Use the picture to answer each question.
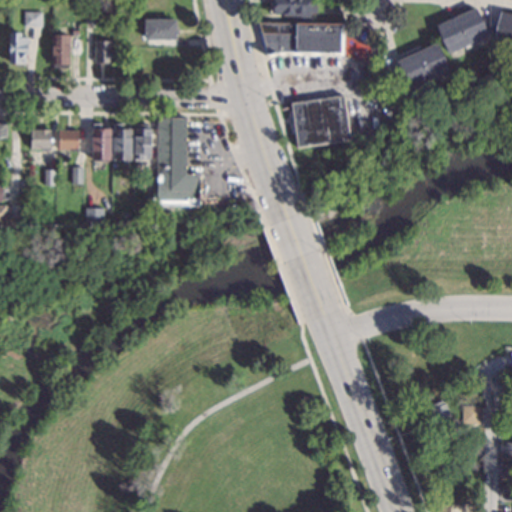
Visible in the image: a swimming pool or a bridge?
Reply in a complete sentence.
There is a bridge in the scene.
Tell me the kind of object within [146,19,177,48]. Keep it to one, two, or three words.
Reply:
house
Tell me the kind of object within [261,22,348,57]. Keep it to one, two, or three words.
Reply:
building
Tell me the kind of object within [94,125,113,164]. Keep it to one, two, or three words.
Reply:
house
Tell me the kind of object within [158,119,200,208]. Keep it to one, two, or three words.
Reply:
building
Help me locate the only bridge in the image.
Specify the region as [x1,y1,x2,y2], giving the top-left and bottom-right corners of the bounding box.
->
[262,212,351,326]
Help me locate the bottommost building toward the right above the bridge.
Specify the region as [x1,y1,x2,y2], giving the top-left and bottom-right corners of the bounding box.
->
[292,97,350,152]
